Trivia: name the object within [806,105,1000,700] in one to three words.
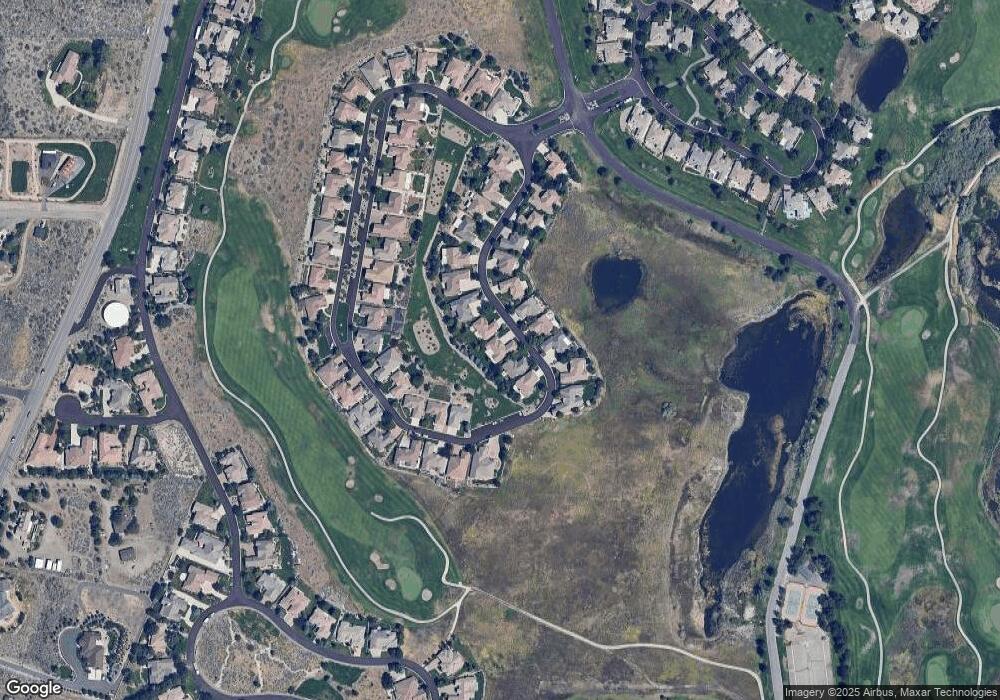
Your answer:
golf course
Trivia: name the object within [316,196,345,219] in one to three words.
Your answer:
house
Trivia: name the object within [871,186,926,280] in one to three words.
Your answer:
pond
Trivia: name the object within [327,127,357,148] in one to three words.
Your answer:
house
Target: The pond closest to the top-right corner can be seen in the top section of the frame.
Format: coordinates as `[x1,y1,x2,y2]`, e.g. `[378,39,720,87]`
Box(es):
[857,37,910,110]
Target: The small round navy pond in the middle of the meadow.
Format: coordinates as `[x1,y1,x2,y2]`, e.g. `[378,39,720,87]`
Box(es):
[590,254,645,310]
